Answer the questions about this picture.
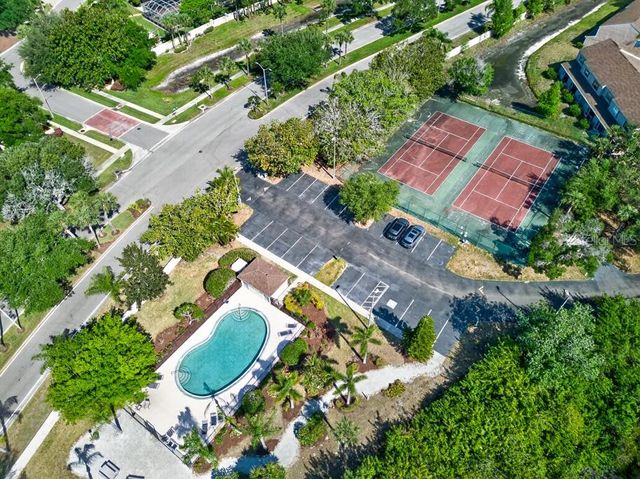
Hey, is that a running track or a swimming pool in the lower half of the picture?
swimming pool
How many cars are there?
2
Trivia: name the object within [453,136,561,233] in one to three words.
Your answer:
tennis court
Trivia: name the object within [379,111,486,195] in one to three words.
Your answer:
tennis court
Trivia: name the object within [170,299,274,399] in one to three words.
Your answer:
swimming pool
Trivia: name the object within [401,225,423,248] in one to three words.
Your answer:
car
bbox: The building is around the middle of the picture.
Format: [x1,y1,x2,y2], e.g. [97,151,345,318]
[235,252,287,298]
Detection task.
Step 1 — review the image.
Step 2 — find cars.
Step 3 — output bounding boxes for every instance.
[386,218,408,241]
[401,225,423,248]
